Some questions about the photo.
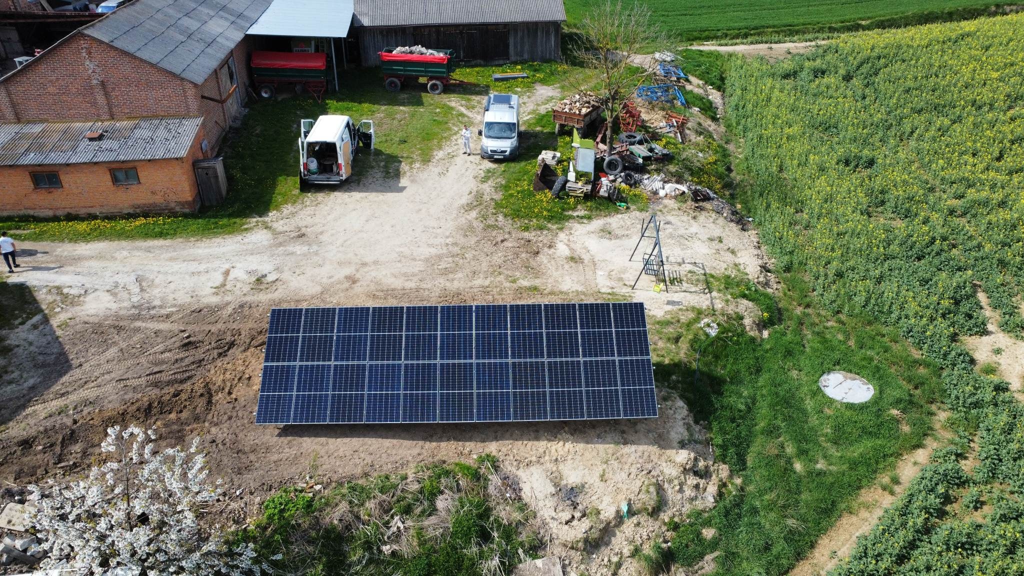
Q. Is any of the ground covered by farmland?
Yes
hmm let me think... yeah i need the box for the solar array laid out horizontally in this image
[253,303,660,428]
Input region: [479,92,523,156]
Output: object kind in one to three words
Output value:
van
